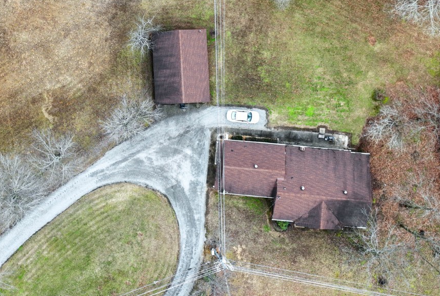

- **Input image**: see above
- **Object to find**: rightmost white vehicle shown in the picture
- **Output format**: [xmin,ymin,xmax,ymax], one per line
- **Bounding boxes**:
[228,109,259,124]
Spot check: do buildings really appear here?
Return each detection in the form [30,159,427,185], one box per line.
[213,140,372,230]
[152,30,210,105]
